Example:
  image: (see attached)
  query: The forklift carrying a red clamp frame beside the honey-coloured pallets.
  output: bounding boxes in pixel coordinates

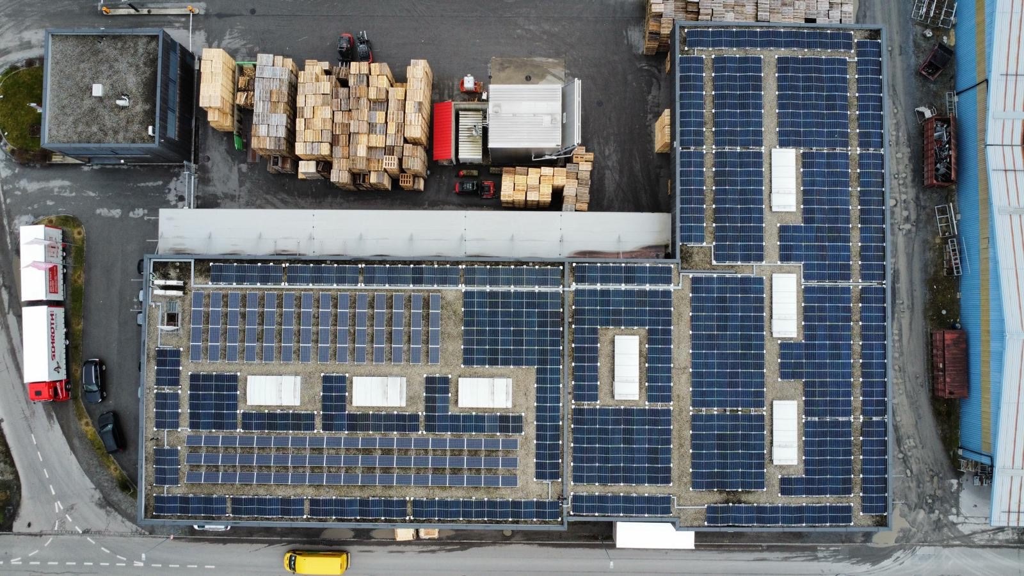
[458,181,492,198]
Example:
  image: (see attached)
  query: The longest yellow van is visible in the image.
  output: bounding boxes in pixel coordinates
[287,546,354,574]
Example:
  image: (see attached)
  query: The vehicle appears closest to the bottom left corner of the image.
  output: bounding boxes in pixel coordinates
[98,410,127,455]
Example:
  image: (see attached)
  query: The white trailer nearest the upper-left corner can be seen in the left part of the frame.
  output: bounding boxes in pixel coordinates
[20,225,71,306]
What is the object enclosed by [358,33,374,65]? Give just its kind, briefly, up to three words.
work vehicle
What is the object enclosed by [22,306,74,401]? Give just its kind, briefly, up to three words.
truck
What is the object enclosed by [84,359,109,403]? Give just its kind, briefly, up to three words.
car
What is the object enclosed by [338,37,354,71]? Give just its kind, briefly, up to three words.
work vehicle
